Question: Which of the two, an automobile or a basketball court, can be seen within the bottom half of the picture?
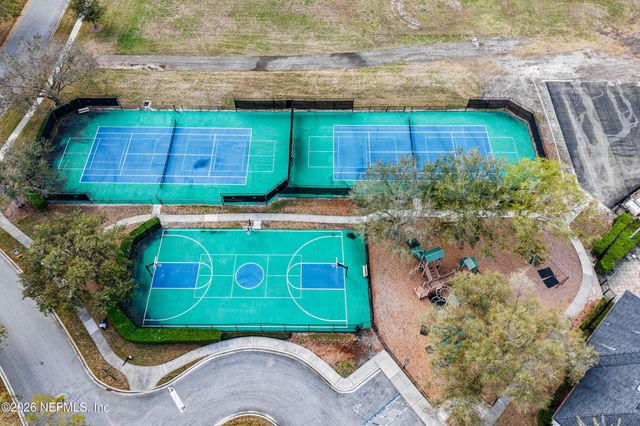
basketball court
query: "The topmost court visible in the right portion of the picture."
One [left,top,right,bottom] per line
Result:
[281,112,541,199]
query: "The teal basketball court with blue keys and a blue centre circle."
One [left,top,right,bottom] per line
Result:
[122,228,371,332]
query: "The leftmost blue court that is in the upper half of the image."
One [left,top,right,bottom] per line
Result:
[42,111,292,205]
